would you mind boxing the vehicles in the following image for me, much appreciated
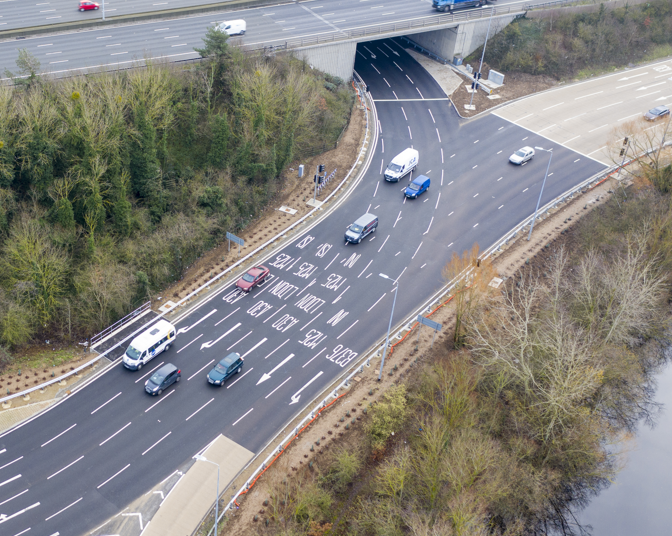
[403,174,431,200]
[145,364,182,396]
[509,146,537,165]
[432,0,487,12]
[204,351,246,388]
[383,148,420,182]
[77,0,99,11]
[118,319,175,373]
[344,211,379,244]
[214,18,247,37]
[234,264,270,293]
[645,104,672,120]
